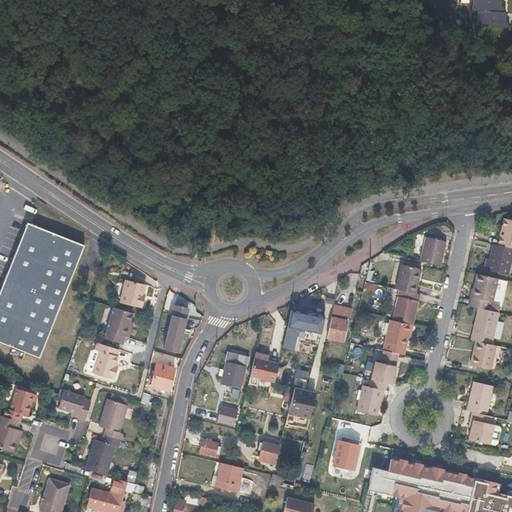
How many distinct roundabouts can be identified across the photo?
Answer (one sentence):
In total, there are 2 roundabouts in the scene.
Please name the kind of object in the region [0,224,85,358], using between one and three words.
building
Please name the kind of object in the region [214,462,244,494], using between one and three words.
house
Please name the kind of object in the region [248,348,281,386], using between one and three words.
house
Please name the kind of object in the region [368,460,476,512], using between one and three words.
building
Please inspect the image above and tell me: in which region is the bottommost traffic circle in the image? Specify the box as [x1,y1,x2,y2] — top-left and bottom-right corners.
[390,382,454,448]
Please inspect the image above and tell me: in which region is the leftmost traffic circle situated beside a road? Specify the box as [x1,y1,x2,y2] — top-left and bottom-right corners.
[203,260,262,318]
